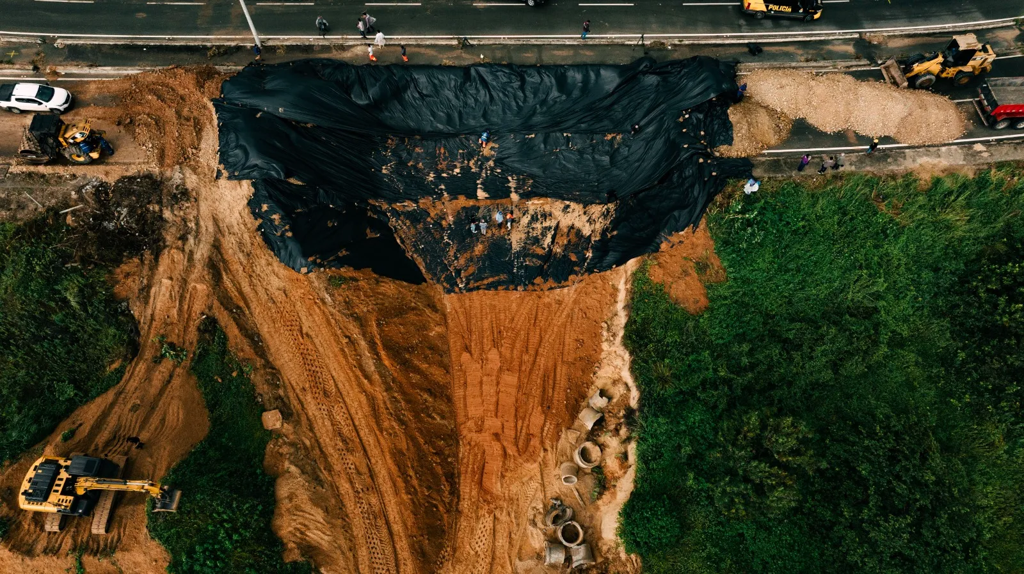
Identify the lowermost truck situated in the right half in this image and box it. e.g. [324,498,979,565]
[965,81,1024,128]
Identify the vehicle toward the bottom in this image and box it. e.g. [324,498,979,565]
[17,449,186,545]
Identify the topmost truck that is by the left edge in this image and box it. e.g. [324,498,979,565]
[0,79,75,115]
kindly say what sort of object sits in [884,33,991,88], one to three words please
work vehicle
